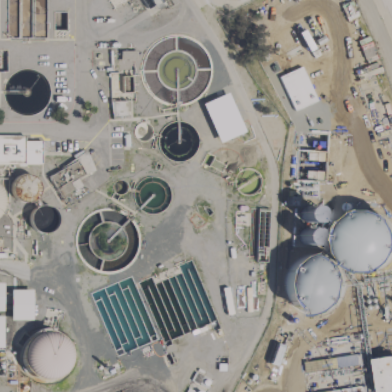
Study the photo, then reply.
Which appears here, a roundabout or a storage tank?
storage tank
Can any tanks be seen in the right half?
Yes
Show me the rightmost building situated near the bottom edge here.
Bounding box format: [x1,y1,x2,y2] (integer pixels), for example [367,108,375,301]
[366,356,392,392]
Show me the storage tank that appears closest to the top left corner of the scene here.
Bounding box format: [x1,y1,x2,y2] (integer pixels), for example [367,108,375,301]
[0,70,52,116]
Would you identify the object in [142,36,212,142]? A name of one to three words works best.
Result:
storage tank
